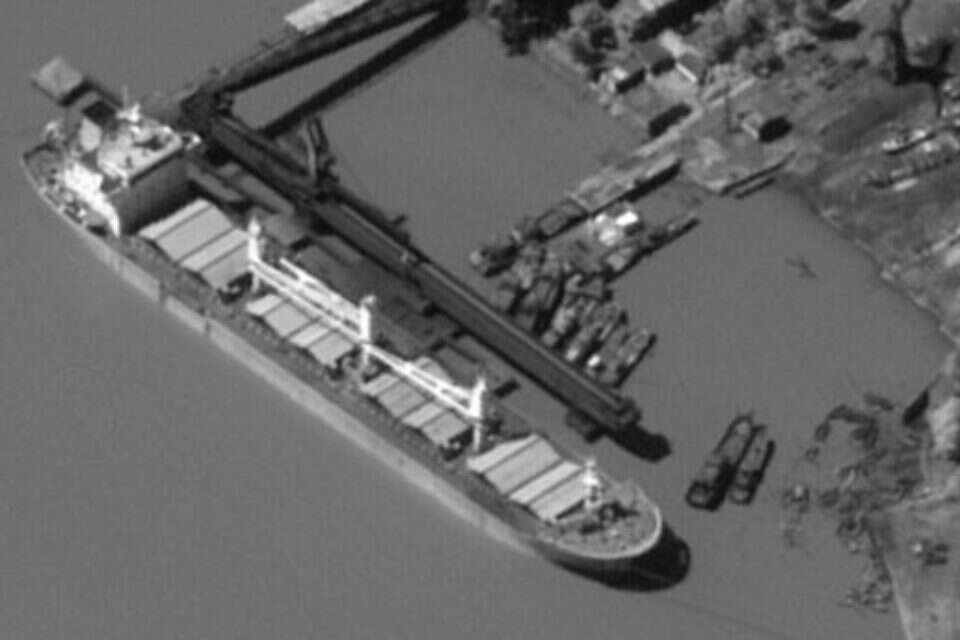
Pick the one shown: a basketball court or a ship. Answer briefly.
ship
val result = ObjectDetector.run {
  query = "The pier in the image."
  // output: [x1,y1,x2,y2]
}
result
[567,143,687,217]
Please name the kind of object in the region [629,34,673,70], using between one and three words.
house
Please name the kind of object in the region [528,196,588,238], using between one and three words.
ship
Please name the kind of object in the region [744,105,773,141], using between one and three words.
house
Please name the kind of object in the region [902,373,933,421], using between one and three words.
boat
